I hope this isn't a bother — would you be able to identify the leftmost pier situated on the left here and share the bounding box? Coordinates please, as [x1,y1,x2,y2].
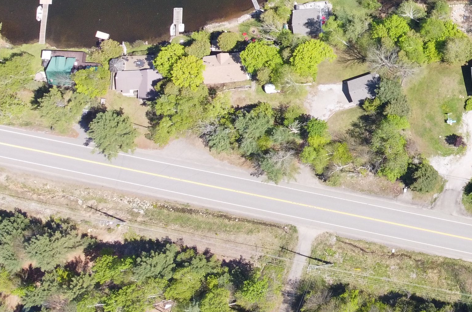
[39,0,52,45]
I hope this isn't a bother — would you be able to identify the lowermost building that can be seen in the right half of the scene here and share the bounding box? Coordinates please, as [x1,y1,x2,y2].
[348,74,382,103]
